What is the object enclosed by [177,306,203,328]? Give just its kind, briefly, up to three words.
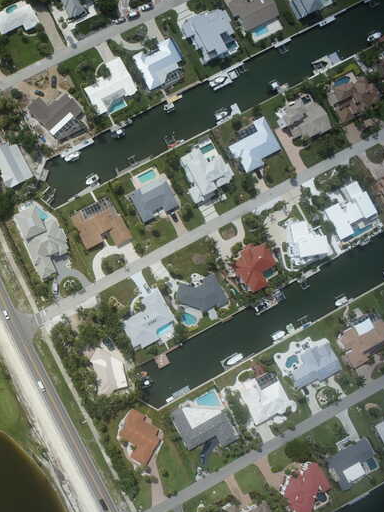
swimming pool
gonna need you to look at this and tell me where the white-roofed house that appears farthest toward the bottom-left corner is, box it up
[91,349,128,394]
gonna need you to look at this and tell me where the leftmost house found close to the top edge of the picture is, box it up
[0,2,39,35]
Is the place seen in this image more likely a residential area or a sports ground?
residential area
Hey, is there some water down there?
Yes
